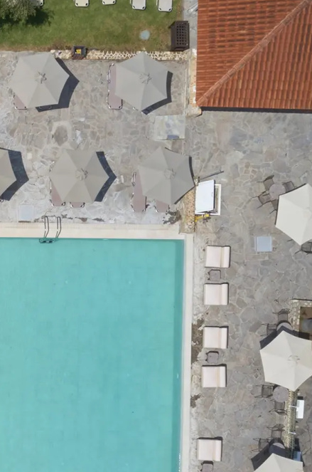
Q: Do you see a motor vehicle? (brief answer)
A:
No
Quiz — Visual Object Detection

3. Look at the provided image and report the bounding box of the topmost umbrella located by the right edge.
[273,185,312,246]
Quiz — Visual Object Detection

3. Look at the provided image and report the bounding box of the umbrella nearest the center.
[136,146,195,206]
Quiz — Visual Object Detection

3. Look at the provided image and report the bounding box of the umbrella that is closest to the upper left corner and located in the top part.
[9,53,70,109]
